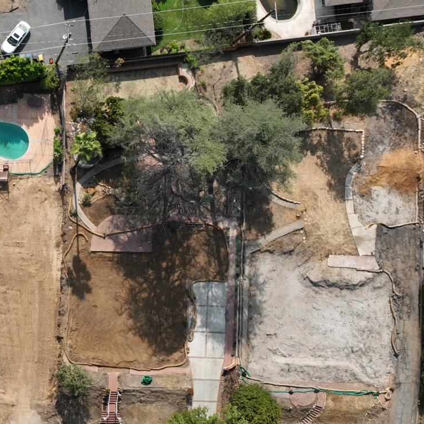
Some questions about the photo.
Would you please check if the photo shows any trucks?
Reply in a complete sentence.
No, there appears to be no truck in this shot.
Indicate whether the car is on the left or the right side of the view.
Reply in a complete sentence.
You can find the car on the left side of the picture.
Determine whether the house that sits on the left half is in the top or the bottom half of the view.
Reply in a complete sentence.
Seen from above, the house that sits on the left half lies in the top half of the view.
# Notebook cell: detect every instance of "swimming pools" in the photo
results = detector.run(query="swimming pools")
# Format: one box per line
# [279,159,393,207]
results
[254,0,300,22]
[0,119,31,161]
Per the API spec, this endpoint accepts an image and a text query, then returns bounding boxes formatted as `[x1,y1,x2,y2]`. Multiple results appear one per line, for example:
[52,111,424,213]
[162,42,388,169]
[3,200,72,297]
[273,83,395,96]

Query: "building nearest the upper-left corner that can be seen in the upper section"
[89,0,156,53]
